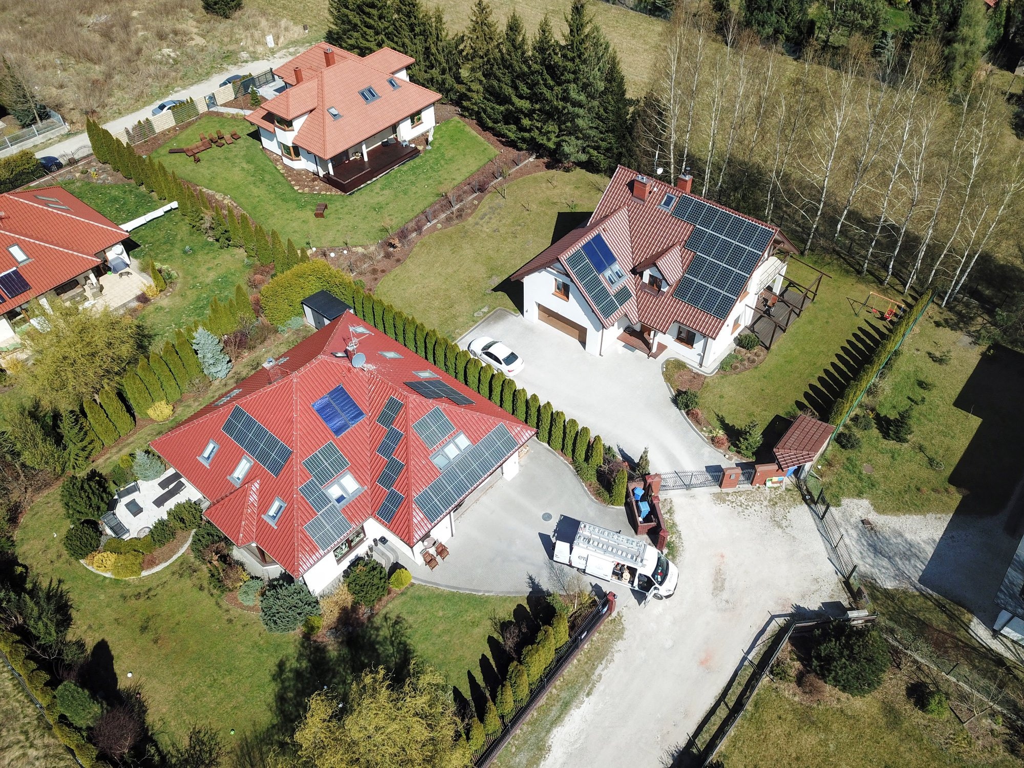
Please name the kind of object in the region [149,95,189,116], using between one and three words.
car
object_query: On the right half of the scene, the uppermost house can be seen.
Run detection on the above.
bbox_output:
[508,152,801,371]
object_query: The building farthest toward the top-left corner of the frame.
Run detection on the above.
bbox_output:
[0,184,134,324]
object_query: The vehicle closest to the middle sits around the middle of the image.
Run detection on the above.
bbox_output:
[461,331,523,374]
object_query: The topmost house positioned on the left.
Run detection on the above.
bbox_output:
[244,41,443,195]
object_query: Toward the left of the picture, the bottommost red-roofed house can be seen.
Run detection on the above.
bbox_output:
[147,309,539,596]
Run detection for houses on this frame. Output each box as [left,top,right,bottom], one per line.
[508,152,801,371]
[147,309,539,596]
[244,41,443,195]
[0,184,134,324]
[987,475,1024,652]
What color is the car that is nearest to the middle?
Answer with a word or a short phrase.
white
